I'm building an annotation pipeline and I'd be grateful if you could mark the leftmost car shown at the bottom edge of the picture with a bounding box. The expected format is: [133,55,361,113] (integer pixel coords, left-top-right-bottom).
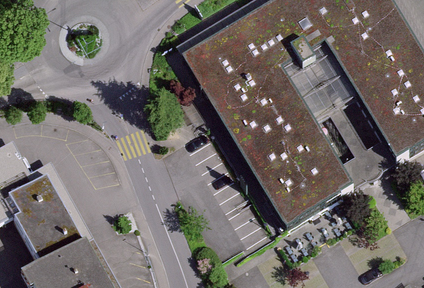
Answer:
[359,268,382,283]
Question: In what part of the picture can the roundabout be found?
top left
